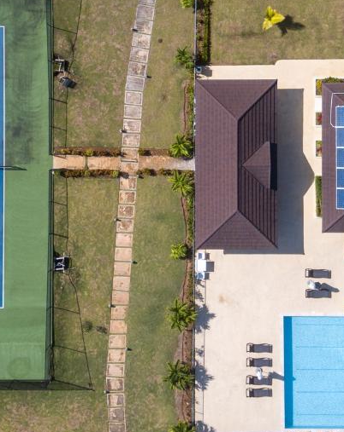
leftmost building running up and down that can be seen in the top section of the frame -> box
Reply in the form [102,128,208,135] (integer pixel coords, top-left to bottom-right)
[196,79,278,250]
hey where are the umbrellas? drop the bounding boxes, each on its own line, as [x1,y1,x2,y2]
[254,367,262,382]
[310,283,322,291]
